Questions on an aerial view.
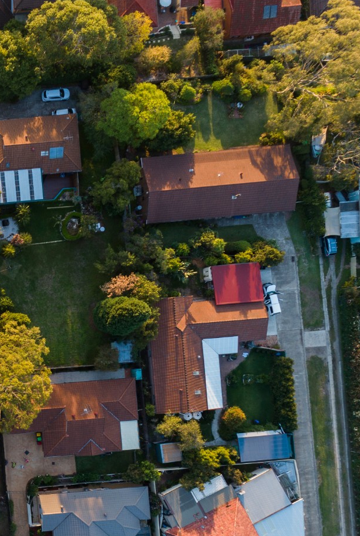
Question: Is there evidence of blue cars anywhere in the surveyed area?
Yes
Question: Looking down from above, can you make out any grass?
Yes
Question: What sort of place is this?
residential area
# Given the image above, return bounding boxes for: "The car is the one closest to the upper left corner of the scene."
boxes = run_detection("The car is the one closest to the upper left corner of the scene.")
[42,86,71,101]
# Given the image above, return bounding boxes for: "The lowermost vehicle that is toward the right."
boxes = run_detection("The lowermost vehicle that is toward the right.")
[264,282,287,316]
